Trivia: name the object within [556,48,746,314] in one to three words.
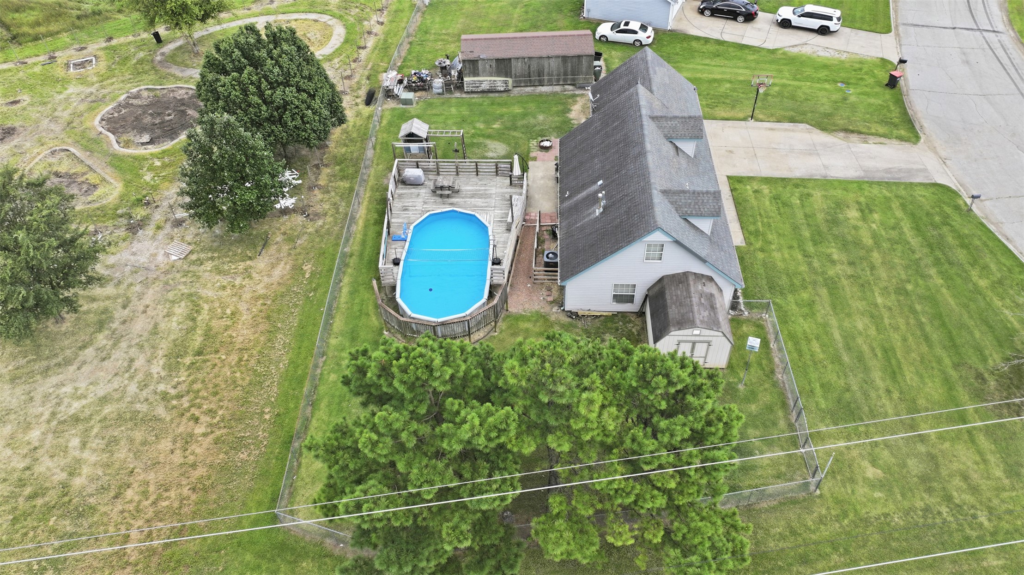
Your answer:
house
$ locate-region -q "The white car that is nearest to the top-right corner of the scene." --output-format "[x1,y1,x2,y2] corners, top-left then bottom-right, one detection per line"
[774,2,843,34]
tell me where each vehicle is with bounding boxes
[594,19,654,45]
[774,2,843,34]
[697,0,760,22]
